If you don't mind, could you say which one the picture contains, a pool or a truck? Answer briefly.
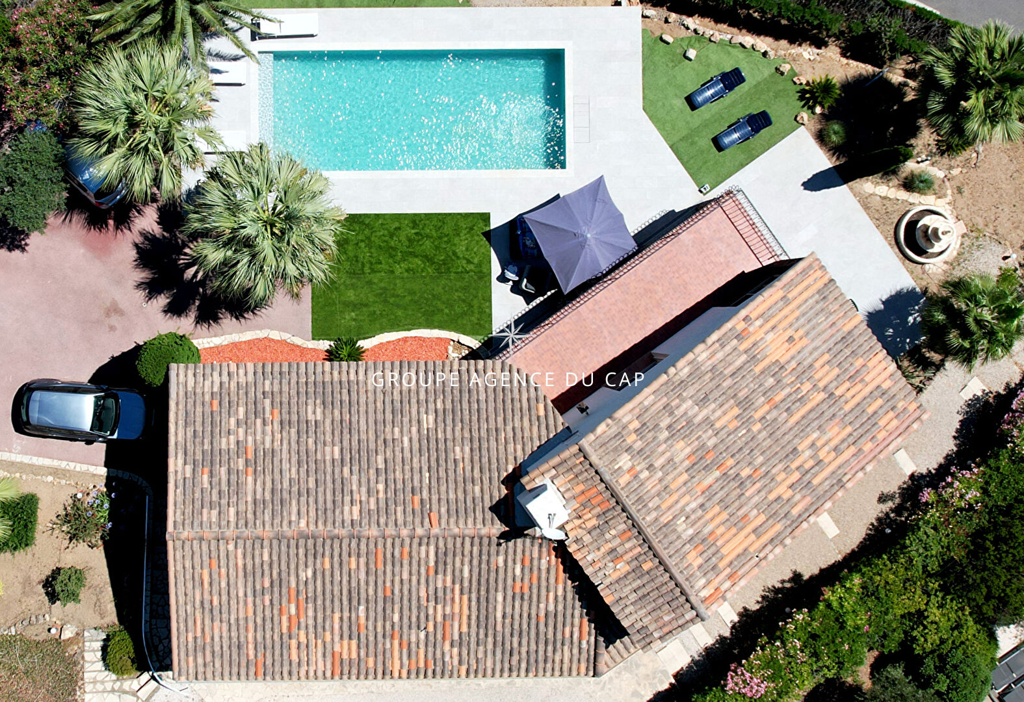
pool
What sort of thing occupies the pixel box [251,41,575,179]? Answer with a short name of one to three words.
swimming pool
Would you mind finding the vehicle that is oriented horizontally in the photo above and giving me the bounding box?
[14,378,155,447]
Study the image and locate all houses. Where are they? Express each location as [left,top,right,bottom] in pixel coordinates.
[163,252,932,685]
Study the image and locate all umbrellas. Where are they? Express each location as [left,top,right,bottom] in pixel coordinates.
[523,176,636,294]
